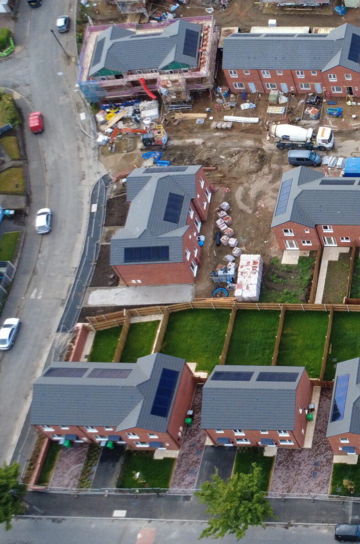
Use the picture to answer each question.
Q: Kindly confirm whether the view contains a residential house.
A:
Yes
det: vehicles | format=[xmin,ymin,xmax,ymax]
[28,112,45,135]
[56,15,71,33]
[0,317,22,353]
[332,523,360,544]
[284,148,323,166]
[265,129,332,155]
[28,0,41,8]
[111,123,172,147]
[36,207,54,237]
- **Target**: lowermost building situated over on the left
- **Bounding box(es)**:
[31,350,193,450]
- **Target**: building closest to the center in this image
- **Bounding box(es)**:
[115,176,212,283]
